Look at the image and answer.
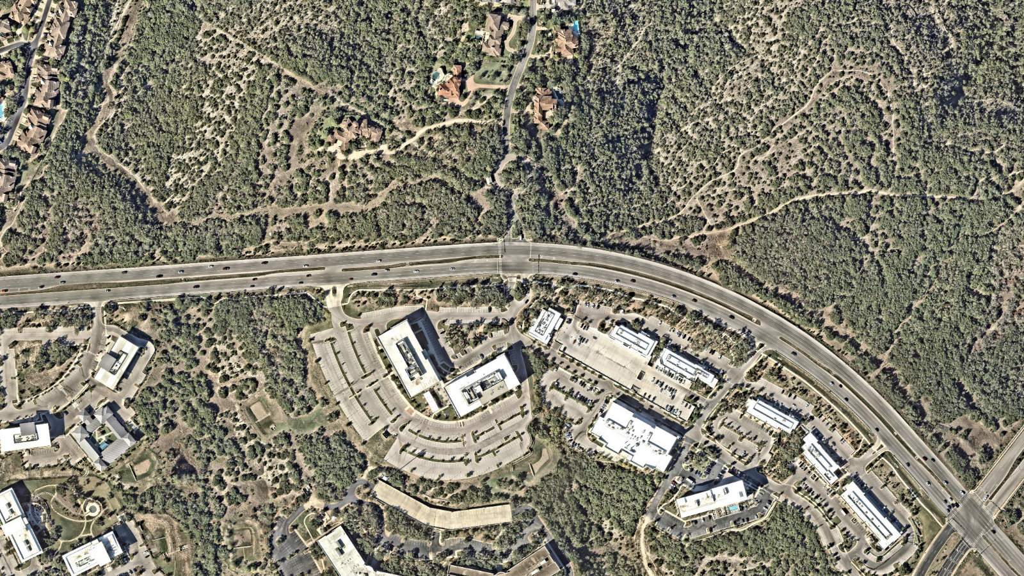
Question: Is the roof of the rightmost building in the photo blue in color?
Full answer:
No, the color of the roof of the rightmost building is white.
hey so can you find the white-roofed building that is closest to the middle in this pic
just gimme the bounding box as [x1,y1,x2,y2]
[528,308,563,344]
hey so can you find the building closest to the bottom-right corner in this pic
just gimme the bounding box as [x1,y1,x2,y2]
[840,482,901,550]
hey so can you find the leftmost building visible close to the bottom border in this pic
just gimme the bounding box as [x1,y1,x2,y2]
[0,488,43,563]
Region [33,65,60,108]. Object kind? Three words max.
house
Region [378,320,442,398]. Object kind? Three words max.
building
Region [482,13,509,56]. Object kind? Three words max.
house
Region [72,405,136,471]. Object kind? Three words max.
building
